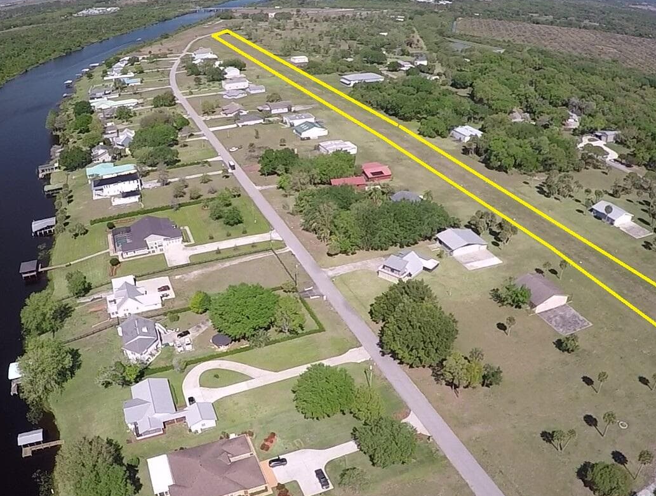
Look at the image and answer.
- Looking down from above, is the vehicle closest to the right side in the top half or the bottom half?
bottom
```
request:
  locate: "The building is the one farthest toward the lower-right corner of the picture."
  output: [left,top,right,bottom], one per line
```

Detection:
[508,274,570,318]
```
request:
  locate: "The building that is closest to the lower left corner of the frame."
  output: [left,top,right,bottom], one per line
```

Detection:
[17,428,45,452]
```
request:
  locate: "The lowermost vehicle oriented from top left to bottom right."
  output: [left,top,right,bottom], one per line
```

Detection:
[312,467,332,489]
